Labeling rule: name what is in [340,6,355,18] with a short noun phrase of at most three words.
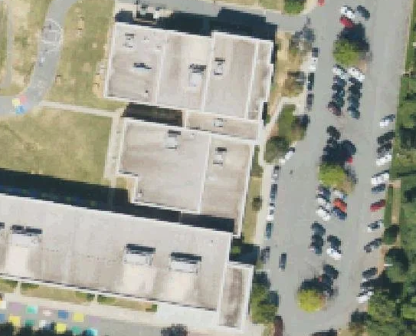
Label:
vehicle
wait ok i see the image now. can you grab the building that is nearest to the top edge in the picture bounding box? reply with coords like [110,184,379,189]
[103,22,275,131]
